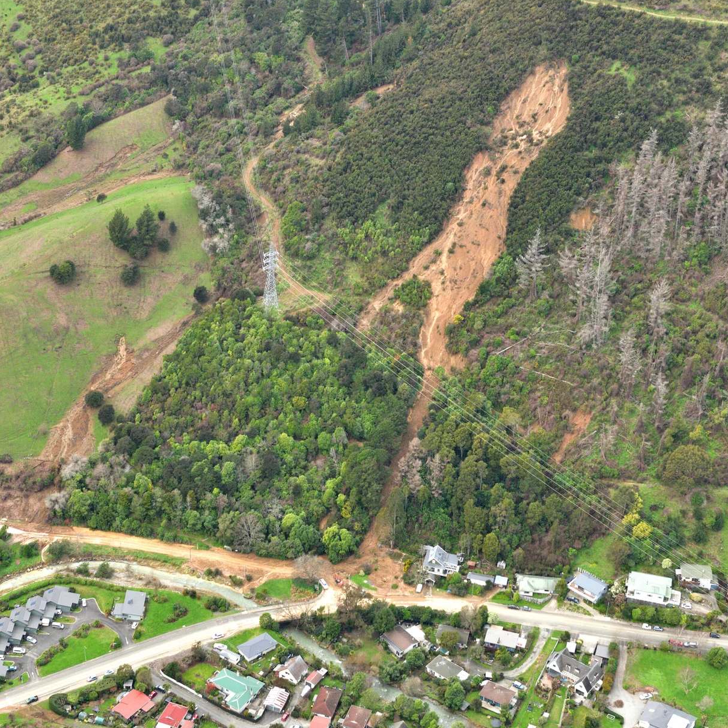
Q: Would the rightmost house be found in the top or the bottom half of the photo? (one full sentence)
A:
It is in the bottom half that the rightmost house appears.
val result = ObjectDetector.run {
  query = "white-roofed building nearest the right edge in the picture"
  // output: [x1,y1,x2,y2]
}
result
[680,563,718,593]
